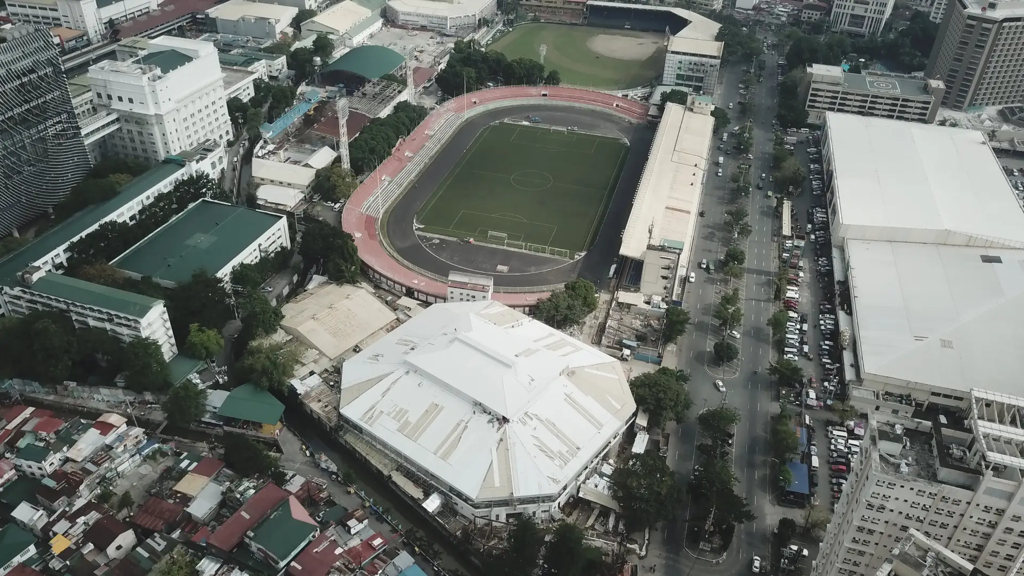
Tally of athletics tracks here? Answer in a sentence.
Only 1 athletics track is visible.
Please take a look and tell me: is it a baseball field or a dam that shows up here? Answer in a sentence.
It is a baseball field that can be seen here.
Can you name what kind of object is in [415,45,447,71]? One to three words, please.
shed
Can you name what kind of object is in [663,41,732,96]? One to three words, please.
building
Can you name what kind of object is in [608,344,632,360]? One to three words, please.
vehicle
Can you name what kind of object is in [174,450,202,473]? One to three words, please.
house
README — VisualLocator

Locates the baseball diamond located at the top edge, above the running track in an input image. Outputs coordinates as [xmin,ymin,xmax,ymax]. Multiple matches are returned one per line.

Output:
[481,24,669,88]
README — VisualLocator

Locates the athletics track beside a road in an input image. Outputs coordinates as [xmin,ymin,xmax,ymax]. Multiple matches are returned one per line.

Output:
[387,105,660,311]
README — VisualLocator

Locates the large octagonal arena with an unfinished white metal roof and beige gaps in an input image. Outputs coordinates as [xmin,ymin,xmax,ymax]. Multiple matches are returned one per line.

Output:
[340,300,635,533]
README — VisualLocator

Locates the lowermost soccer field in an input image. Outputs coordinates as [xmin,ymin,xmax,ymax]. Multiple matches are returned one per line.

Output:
[405,122,633,261]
